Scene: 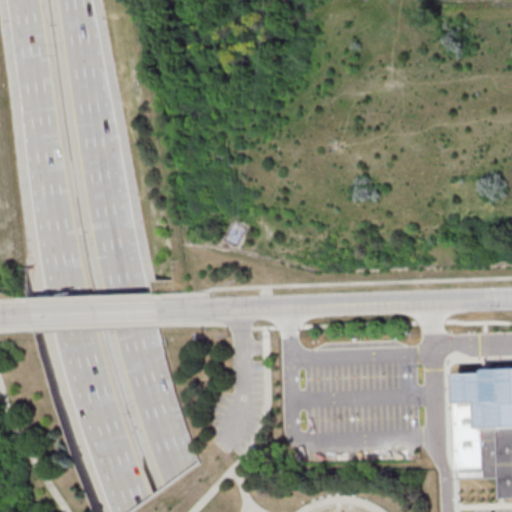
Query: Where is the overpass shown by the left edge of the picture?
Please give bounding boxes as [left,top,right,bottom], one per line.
[20,294,166,332]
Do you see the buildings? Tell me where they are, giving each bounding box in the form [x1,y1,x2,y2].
[449,368,512,498]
